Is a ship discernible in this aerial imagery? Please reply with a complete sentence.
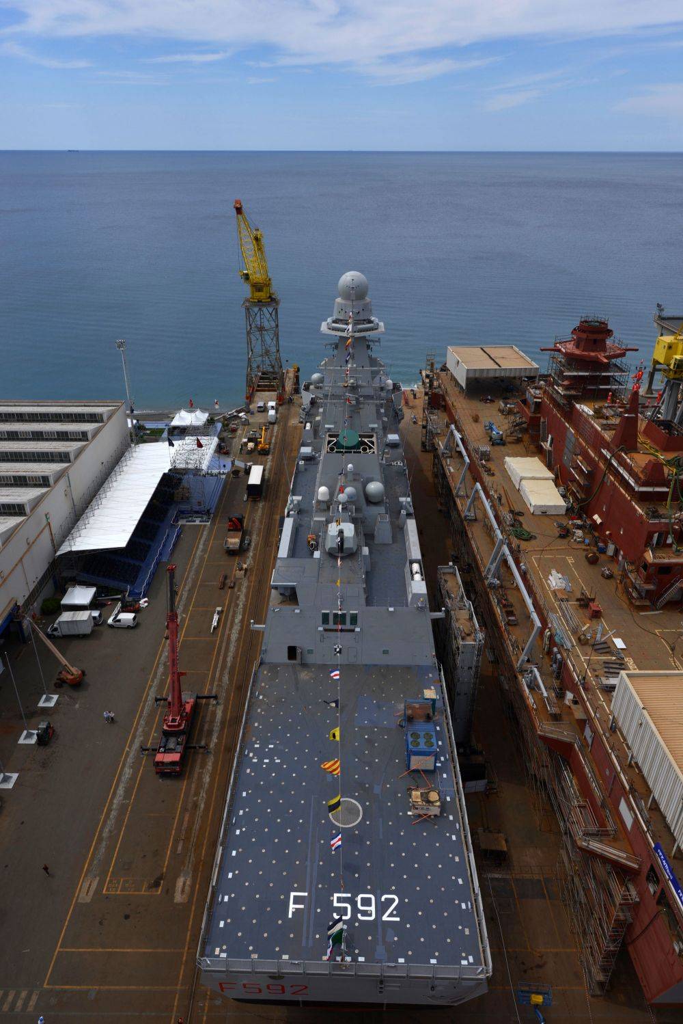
Yes, this view includes a ship.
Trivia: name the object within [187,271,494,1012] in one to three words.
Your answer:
ship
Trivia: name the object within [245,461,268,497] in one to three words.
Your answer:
trailer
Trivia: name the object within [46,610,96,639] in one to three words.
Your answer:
truck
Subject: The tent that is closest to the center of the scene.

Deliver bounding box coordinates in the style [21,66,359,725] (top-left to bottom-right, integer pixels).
[170,407,209,436]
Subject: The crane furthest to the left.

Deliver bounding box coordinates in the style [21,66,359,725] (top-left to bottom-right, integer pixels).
[141,559,222,778]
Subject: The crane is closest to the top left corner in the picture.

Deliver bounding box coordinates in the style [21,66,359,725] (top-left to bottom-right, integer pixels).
[229,196,289,409]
